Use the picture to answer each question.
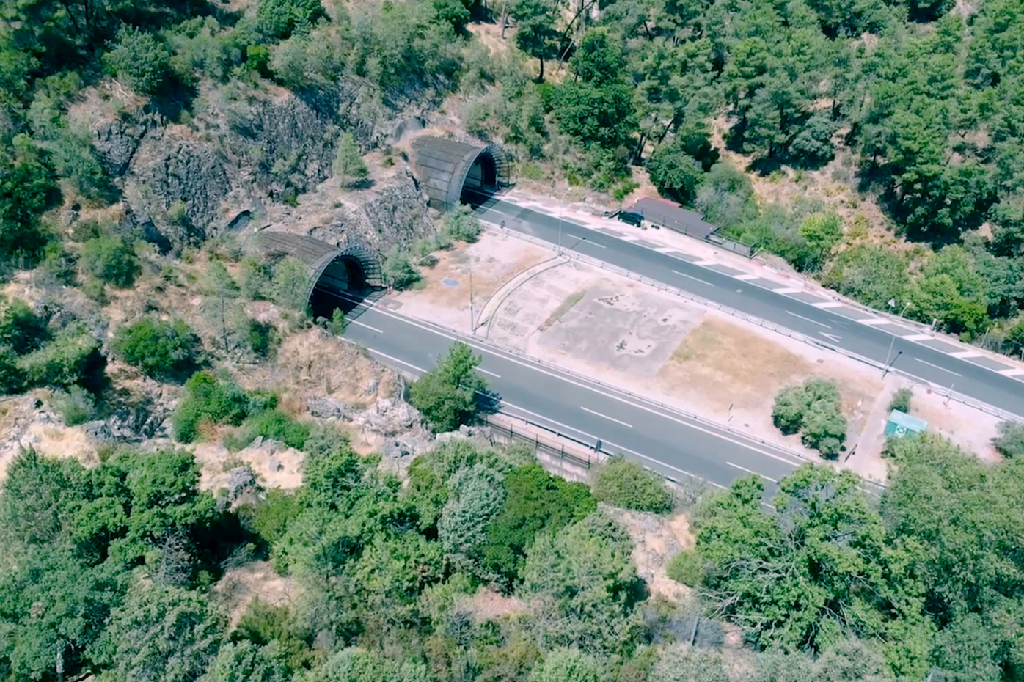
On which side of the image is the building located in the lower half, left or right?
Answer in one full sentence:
The building located in the lower half is on the right side of the image.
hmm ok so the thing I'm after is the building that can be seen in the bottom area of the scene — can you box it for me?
[886,408,934,448]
